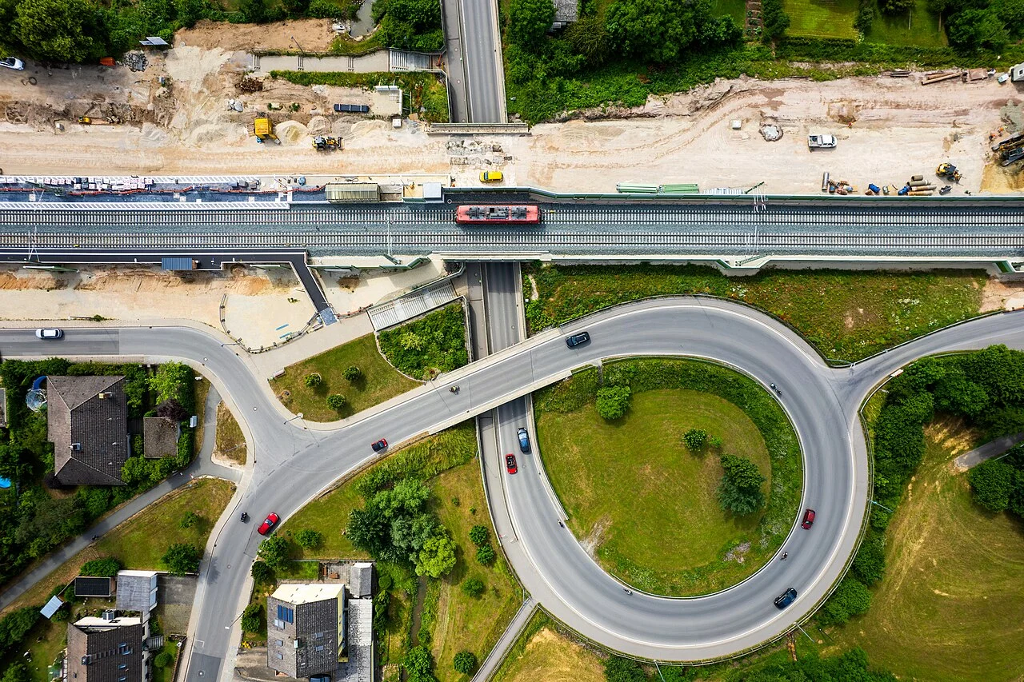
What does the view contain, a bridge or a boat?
bridge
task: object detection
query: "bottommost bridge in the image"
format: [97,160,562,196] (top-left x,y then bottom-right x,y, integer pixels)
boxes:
[429,327,572,437]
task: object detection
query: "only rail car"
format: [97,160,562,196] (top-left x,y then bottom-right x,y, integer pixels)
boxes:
[455,206,540,224]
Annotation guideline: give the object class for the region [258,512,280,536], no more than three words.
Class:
car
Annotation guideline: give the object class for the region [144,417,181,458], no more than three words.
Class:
building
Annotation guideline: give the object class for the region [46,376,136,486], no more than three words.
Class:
house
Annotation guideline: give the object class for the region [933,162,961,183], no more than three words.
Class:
work vehicle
